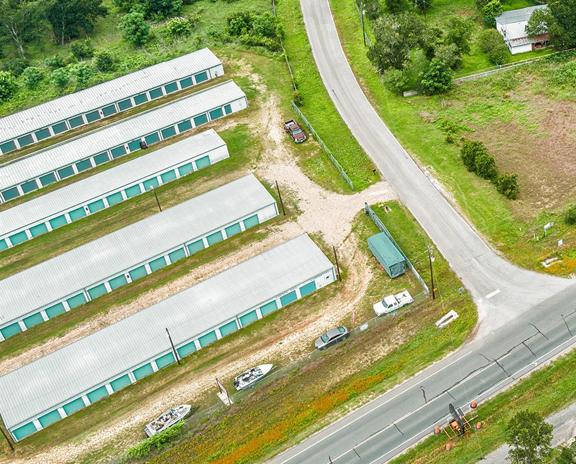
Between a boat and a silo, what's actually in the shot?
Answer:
boat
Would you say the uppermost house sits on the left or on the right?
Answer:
right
